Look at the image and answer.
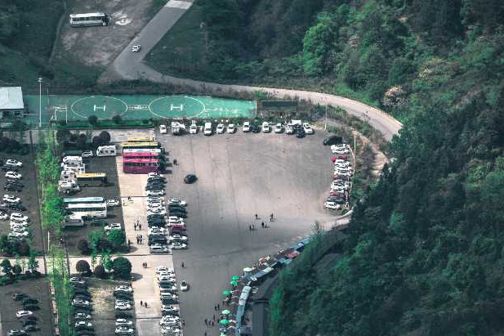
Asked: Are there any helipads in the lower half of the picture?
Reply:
No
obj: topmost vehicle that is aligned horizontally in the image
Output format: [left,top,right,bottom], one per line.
[67,13,108,28]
